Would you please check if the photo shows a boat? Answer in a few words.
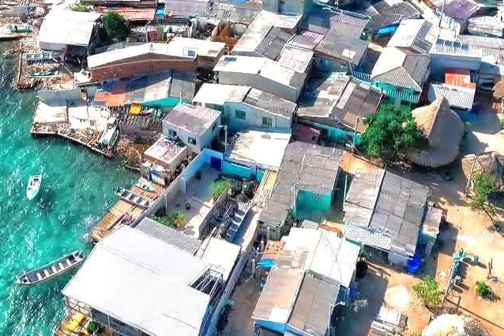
Yes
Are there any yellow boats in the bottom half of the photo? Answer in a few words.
No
